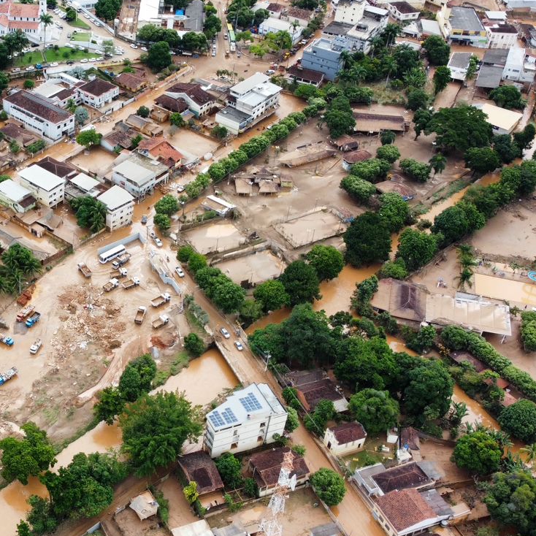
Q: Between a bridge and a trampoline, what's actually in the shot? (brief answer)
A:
bridge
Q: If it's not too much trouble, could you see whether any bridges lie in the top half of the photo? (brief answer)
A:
No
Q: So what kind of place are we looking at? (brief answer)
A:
residential area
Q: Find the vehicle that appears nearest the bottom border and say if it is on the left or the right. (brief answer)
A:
left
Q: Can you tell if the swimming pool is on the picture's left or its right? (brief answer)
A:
right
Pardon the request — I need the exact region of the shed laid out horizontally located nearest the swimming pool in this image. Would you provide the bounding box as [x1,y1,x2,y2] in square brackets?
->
[424,295,511,349]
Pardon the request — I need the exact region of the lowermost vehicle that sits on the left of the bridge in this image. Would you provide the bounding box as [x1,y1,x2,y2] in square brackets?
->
[0,363,21,385]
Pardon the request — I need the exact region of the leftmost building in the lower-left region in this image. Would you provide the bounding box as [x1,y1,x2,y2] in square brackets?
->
[129,494,161,525]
